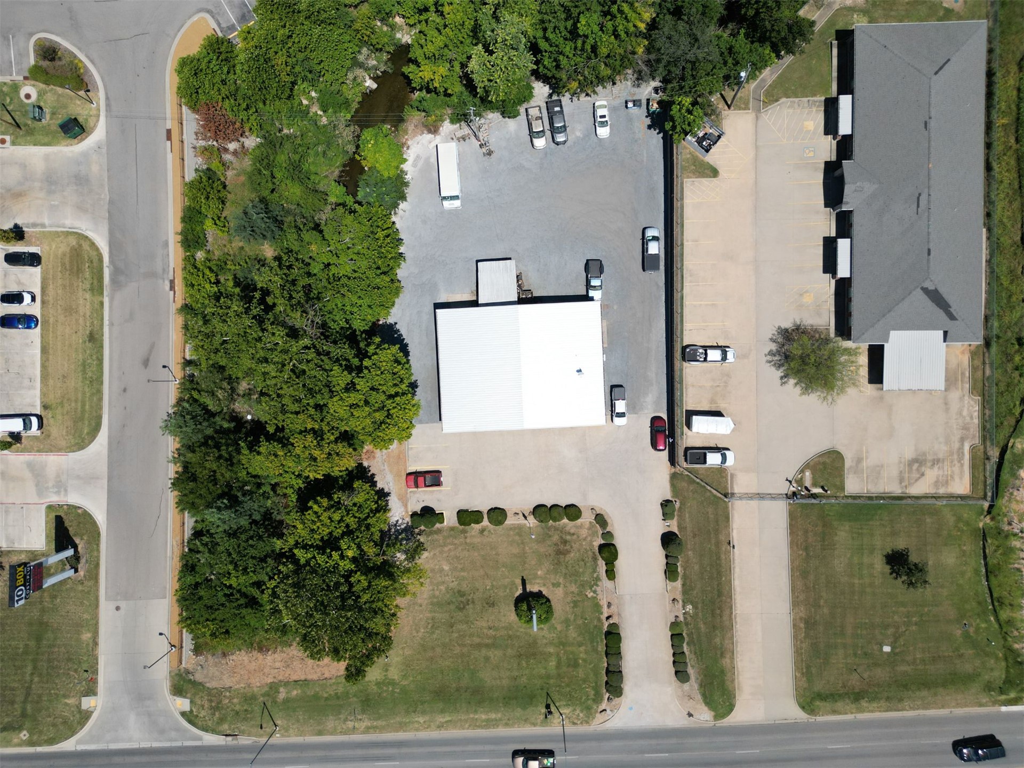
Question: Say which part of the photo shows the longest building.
top right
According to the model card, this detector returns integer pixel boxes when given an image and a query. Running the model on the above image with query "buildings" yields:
[828,20,988,344]
[436,260,607,432]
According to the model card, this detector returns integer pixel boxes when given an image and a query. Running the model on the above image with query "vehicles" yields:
[651,416,668,451]
[407,472,444,488]
[684,345,733,363]
[686,448,732,466]
[585,259,603,301]
[593,101,611,140]
[610,384,626,426]
[955,735,1004,759]
[546,99,568,148]
[4,251,45,268]
[526,106,545,151]
[2,290,39,307]
[3,314,42,330]
[512,755,556,768]
[642,228,660,273]
[438,141,463,212]
[0,415,47,432]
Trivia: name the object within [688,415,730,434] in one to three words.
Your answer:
trailer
